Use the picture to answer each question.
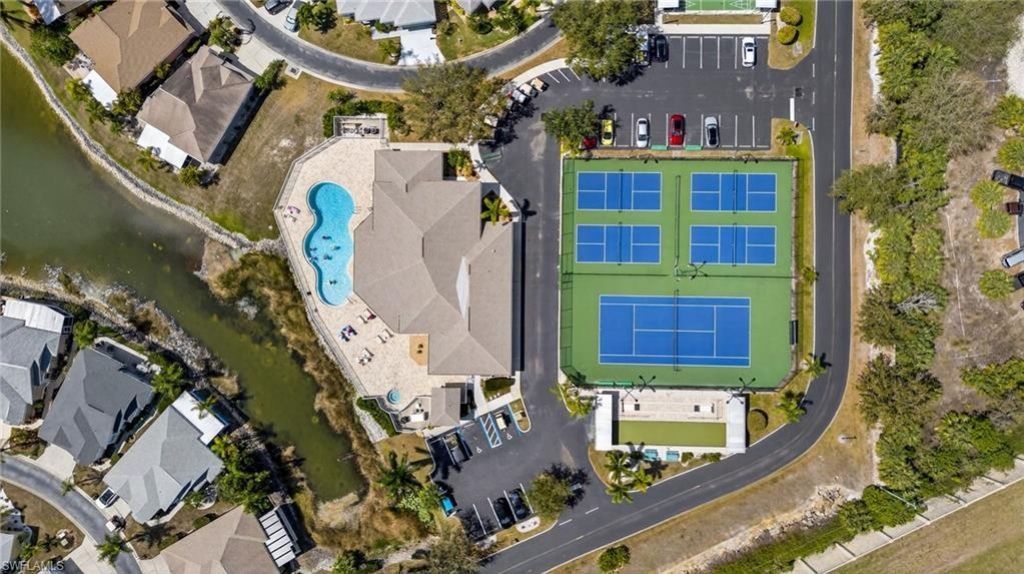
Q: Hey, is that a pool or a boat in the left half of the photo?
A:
pool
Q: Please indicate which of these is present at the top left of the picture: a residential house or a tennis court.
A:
residential house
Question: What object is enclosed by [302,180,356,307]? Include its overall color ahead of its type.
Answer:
blue swimming pool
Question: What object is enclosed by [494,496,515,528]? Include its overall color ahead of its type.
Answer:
black car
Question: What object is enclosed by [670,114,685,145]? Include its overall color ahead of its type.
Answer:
red car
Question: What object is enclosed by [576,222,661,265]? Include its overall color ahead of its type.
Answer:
blue sports court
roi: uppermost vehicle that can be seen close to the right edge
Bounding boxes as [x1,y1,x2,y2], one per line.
[991,171,1024,191]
